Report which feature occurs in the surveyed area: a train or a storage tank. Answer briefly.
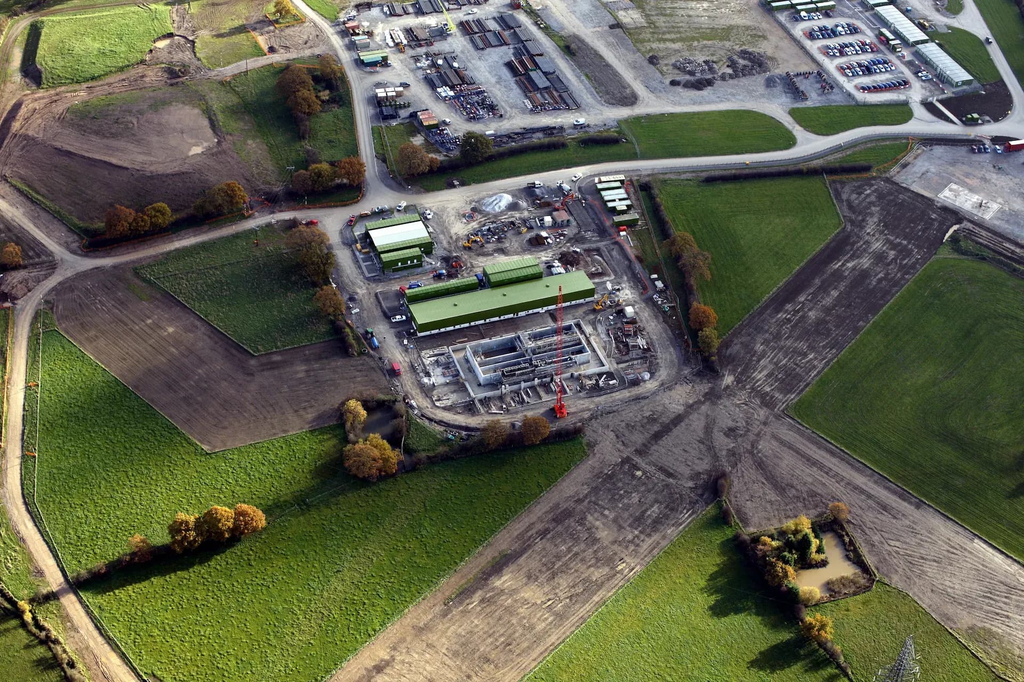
storage tank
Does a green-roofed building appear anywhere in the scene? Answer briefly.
Yes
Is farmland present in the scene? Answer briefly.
Yes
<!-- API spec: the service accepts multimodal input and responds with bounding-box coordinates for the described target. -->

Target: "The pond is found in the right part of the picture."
[796,533,860,595]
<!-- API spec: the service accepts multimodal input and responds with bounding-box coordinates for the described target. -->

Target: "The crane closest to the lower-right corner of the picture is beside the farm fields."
[553,286,568,421]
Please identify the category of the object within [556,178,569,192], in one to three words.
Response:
vehicle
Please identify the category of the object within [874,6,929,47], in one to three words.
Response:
building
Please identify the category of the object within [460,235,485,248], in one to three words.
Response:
vehicle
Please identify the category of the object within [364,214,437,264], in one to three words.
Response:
building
